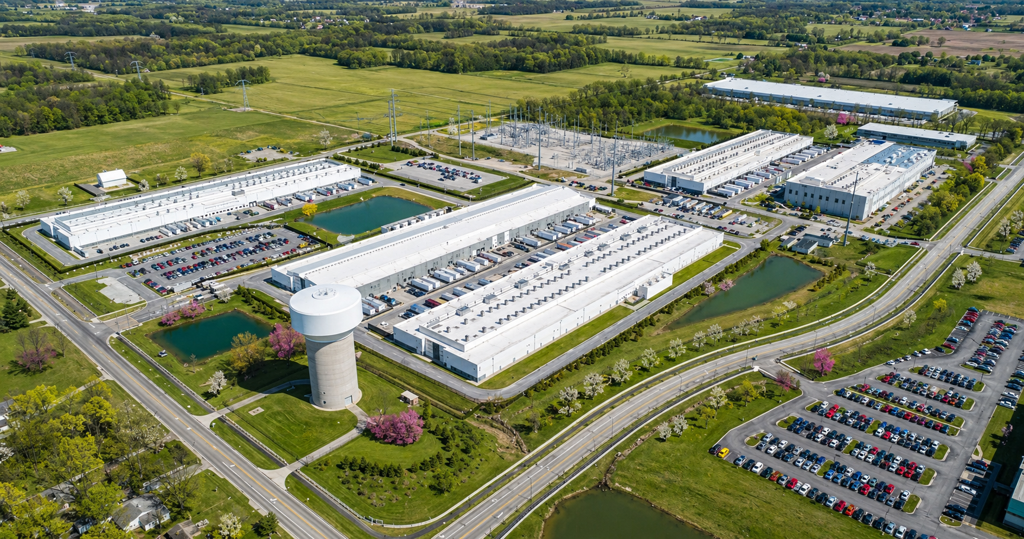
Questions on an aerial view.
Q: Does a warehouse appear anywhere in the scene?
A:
Yes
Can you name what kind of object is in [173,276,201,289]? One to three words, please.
vehicle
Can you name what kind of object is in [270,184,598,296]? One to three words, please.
warehouse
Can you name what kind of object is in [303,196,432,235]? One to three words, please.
pond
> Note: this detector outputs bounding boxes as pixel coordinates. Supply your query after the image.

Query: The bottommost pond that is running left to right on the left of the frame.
[153,312,272,361]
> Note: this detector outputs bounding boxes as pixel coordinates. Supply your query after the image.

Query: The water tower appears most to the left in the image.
[288,285,365,410]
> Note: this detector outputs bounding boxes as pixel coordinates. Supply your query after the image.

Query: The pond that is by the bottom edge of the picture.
[542,486,705,539]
